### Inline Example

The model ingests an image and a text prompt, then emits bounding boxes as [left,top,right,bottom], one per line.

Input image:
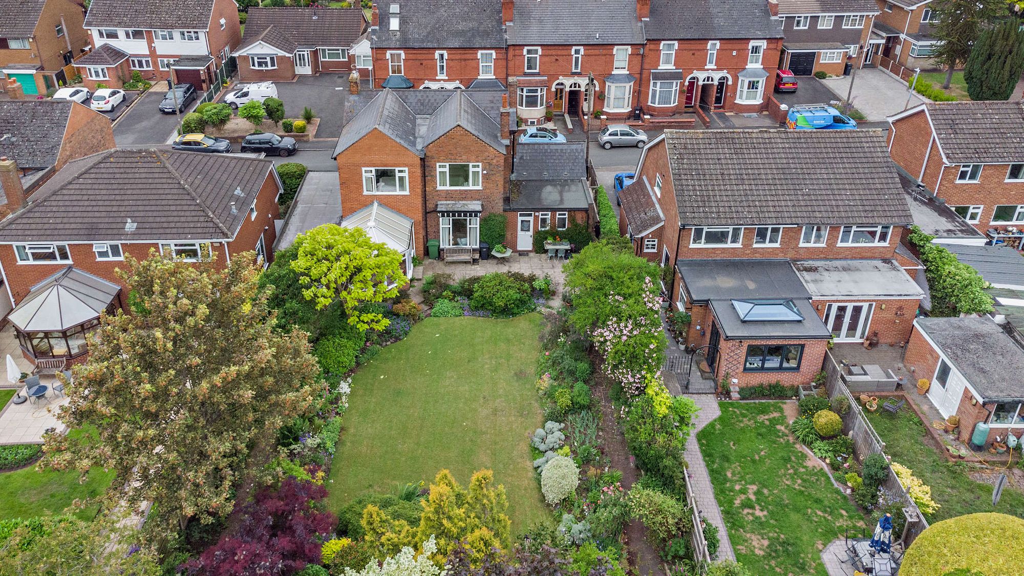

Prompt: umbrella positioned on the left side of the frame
[0,355,26,405]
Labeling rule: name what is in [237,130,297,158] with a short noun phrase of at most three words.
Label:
car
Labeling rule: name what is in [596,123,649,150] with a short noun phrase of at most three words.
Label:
car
